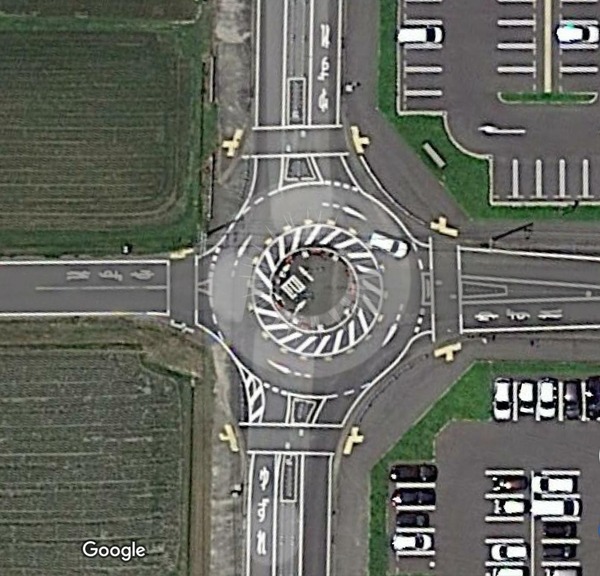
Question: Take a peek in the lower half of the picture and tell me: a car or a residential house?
car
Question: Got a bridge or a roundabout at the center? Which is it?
roundabout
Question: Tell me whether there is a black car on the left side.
No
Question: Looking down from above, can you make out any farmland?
Yes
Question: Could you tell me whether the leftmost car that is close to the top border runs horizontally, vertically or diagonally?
horizontally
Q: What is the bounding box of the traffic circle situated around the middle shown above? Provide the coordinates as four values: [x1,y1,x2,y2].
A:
[209,180,425,400]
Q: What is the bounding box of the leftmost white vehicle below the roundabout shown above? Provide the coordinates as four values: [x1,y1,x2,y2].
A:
[391,532,434,553]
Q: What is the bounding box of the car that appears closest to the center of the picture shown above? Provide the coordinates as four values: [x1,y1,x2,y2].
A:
[369,231,410,257]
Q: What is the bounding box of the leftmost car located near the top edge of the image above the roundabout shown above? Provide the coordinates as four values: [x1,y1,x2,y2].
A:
[399,23,445,44]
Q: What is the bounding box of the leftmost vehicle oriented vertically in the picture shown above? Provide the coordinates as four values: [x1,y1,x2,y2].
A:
[493,378,514,422]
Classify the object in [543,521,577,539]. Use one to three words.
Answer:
car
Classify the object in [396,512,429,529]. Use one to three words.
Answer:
car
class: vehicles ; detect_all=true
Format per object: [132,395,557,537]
[392,488,436,507]
[531,497,582,518]
[557,24,600,43]
[493,497,529,516]
[391,532,434,553]
[369,231,410,257]
[491,543,529,562]
[543,521,577,539]
[391,463,438,484]
[588,376,600,421]
[519,381,537,415]
[493,378,514,422]
[399,23,445,44]
[396,512,429,529]
[538,377,558,420]
[533,475,577,495]
[564,381,583,420]
[493,475,528,493]
[543,566,581,576]
[543,543,577,560]
[487,566,529,576]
